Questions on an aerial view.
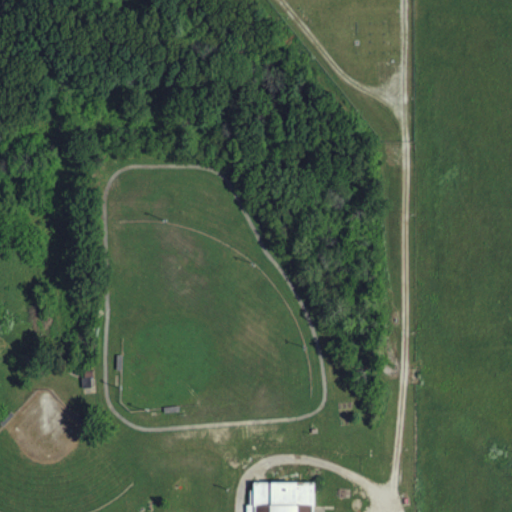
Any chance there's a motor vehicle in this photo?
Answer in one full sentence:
No, the photo shows no motor vehicle.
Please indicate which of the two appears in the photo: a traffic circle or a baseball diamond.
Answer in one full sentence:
This aerial view contains a baseball diamond.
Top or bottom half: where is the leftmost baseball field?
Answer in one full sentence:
The leftmost baseball field sits in the bottom half of the picture.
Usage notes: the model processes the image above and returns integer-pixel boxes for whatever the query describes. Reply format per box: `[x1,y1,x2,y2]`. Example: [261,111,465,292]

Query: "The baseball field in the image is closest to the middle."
[119,220,313,418]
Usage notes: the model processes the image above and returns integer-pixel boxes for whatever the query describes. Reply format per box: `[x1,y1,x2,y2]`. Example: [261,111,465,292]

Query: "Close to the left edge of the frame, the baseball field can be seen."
[0,387,134,512]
